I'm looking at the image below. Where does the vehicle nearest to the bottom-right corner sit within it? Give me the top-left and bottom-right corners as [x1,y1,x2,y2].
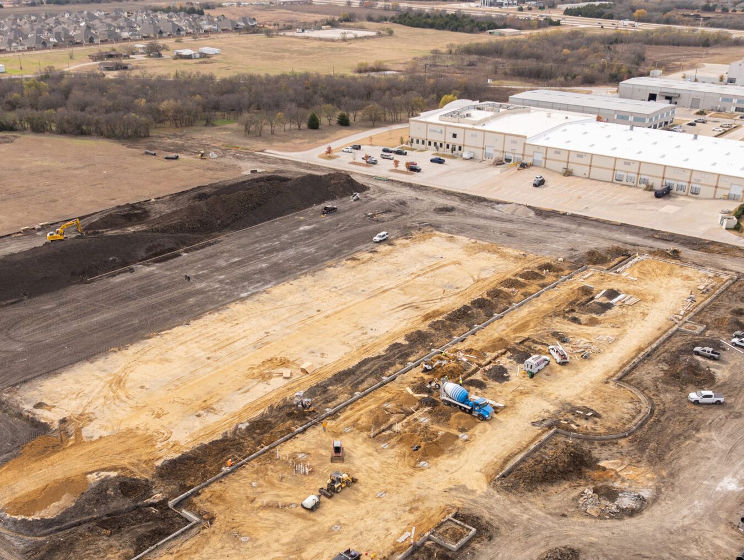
[686,388,729,405]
